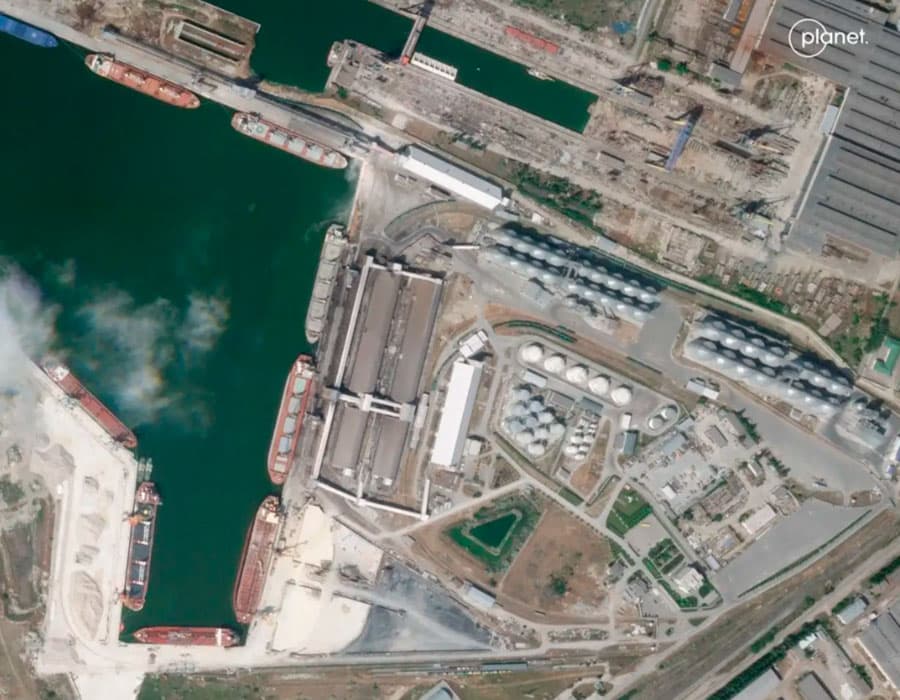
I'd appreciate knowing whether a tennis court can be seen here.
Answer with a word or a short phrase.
No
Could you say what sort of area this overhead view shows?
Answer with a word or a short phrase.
port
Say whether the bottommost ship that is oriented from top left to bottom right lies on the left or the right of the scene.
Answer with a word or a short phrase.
left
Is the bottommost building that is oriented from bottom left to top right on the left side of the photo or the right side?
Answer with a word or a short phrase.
right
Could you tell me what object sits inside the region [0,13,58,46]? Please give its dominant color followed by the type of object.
blue ship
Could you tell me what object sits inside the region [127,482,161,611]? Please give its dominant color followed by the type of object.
gray ship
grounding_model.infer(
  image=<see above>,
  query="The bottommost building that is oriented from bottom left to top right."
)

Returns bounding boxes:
[732,667,783,700]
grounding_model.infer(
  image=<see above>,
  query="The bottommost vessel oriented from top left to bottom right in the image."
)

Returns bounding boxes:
[43,358,134,446]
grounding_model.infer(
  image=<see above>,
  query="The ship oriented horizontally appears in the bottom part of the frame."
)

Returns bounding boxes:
[134,629,241,648]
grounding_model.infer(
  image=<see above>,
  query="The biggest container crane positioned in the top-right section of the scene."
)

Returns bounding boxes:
[654,120,692,172]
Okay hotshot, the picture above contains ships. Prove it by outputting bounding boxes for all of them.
[127,482,161,611]
[306,223,347,344]
[228,116,347,167]
[134,629,241,648]
[43,358,134,446]
[327,40,342,68]
[0,13,58,46]
[82,55,200,107]
[237,493,285,622]
[273,354,315,485]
